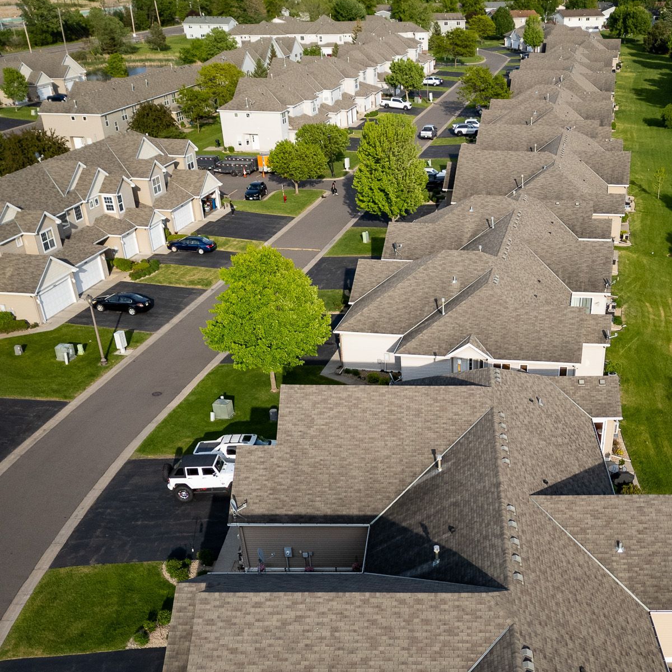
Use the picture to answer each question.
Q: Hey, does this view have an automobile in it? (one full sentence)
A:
Yes, an automobile appears in the view.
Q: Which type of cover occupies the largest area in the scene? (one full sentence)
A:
The bulk of the photo consists of buildings.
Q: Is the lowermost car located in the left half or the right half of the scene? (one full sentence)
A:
It is on the left.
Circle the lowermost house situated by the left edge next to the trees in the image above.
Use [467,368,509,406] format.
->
[0,118,226,322]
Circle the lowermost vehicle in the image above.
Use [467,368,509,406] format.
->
[164,459,233,502]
